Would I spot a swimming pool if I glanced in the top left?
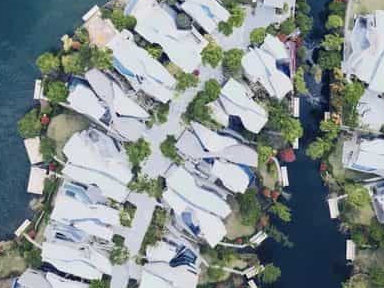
No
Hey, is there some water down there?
Yes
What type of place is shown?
residential area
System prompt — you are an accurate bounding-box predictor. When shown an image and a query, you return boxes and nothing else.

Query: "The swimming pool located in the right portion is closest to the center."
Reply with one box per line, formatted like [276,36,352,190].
[228,114,245,129]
